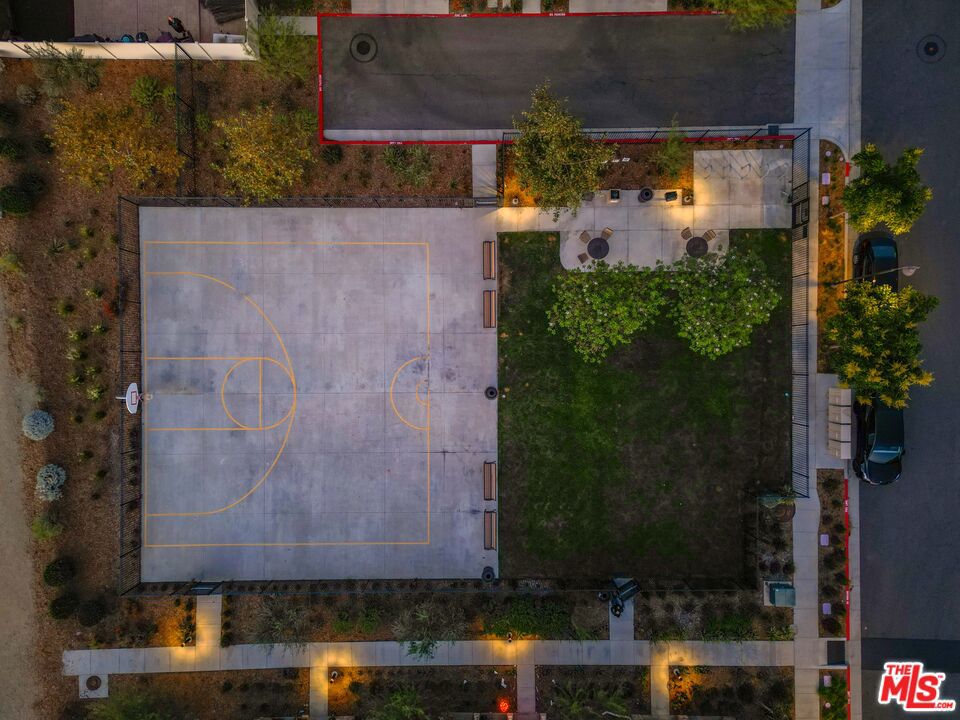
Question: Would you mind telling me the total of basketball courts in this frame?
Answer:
1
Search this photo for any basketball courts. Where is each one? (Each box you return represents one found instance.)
[139,206,499,580]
